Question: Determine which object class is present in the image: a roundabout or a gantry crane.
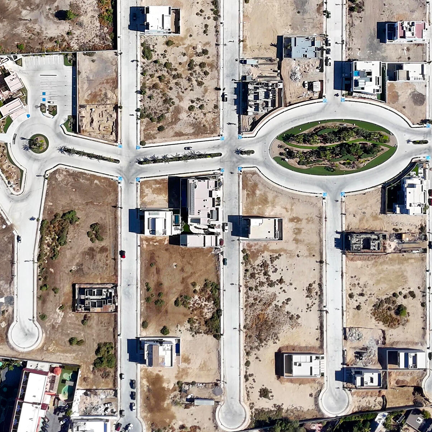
roundabout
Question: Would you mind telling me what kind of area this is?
residential area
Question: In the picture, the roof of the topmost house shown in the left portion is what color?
white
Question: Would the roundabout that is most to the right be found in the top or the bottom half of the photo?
top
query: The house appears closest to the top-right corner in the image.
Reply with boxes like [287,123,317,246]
[385,22,427,44]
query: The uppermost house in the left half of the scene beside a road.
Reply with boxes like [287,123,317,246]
[142,5,180,36]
